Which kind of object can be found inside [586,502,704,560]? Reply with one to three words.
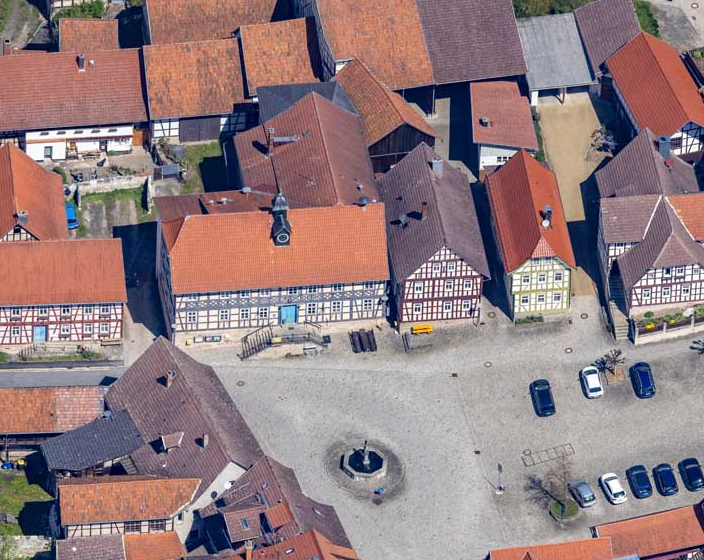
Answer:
shed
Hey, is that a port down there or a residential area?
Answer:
residential area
